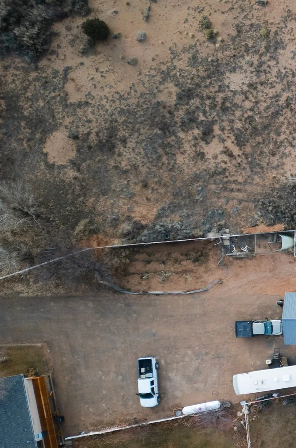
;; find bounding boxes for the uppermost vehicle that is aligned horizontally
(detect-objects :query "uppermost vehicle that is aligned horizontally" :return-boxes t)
[236,317,284,339]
